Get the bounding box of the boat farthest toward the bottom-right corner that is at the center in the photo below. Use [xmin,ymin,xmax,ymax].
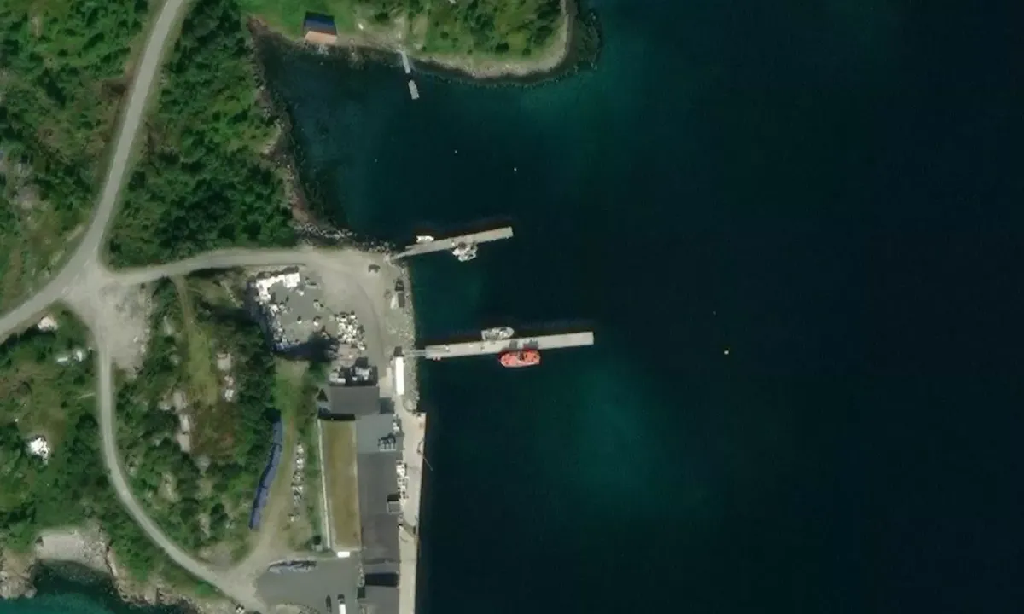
[498,348,543,367]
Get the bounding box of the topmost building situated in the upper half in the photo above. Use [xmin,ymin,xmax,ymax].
[305,19,337,45]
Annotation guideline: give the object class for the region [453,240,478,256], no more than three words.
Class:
boat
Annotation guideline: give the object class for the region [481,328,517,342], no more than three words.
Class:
boat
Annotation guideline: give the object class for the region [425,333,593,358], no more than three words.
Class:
pier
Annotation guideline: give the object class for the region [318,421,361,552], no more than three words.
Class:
building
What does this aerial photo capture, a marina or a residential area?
marina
